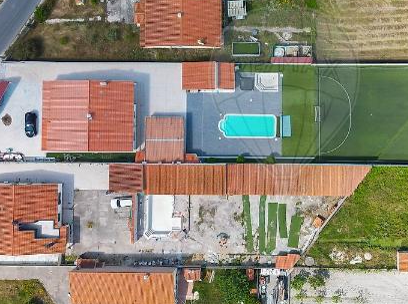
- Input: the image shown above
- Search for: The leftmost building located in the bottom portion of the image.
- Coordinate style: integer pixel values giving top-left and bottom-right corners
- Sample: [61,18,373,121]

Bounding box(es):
[0,182,72,262]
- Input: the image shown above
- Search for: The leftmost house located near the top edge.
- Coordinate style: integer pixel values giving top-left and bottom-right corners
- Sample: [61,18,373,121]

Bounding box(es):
[134,0,222,48]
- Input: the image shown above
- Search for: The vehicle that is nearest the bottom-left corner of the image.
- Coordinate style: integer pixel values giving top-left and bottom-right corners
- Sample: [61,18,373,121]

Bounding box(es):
[111,197,133,210]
